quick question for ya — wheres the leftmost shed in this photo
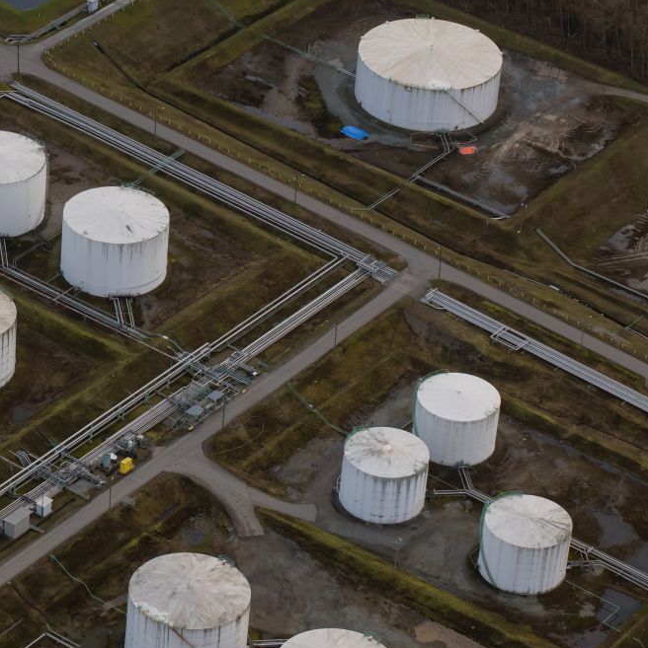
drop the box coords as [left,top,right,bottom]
[2,507,31,540]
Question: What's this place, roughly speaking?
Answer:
industrial area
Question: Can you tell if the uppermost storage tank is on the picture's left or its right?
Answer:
right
